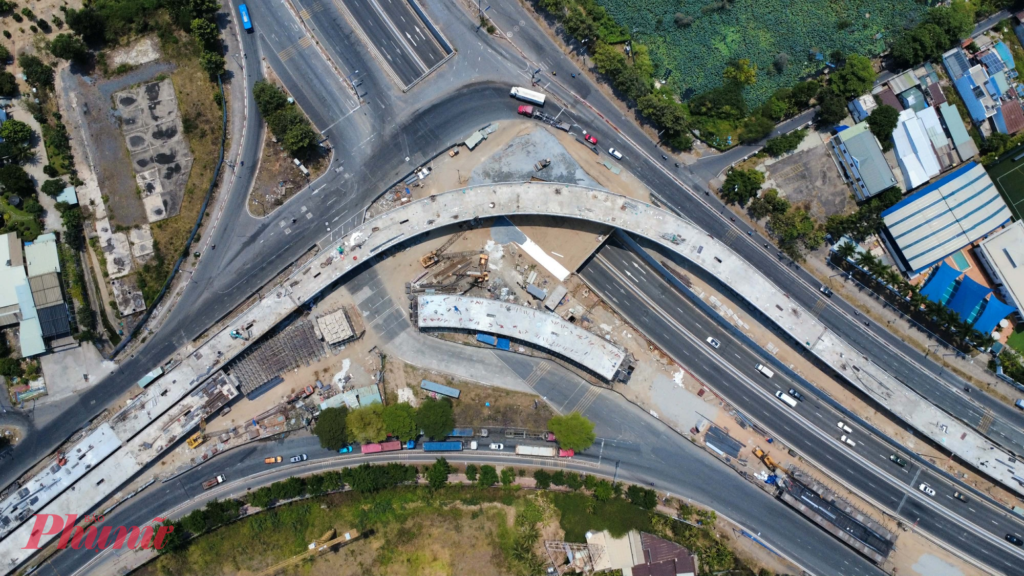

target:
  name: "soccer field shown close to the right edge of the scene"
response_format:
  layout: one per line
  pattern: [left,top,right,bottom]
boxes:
[982,140,1024,220]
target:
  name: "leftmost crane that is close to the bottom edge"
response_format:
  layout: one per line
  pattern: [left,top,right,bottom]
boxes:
[250,519,360,576]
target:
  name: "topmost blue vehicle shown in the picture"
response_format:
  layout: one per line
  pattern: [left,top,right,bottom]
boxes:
[239,5,255,35]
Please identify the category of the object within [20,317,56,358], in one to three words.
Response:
shed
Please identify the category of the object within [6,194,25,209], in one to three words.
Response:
gazebo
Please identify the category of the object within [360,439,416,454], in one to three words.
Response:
vehicle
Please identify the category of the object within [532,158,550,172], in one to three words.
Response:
work vehicle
